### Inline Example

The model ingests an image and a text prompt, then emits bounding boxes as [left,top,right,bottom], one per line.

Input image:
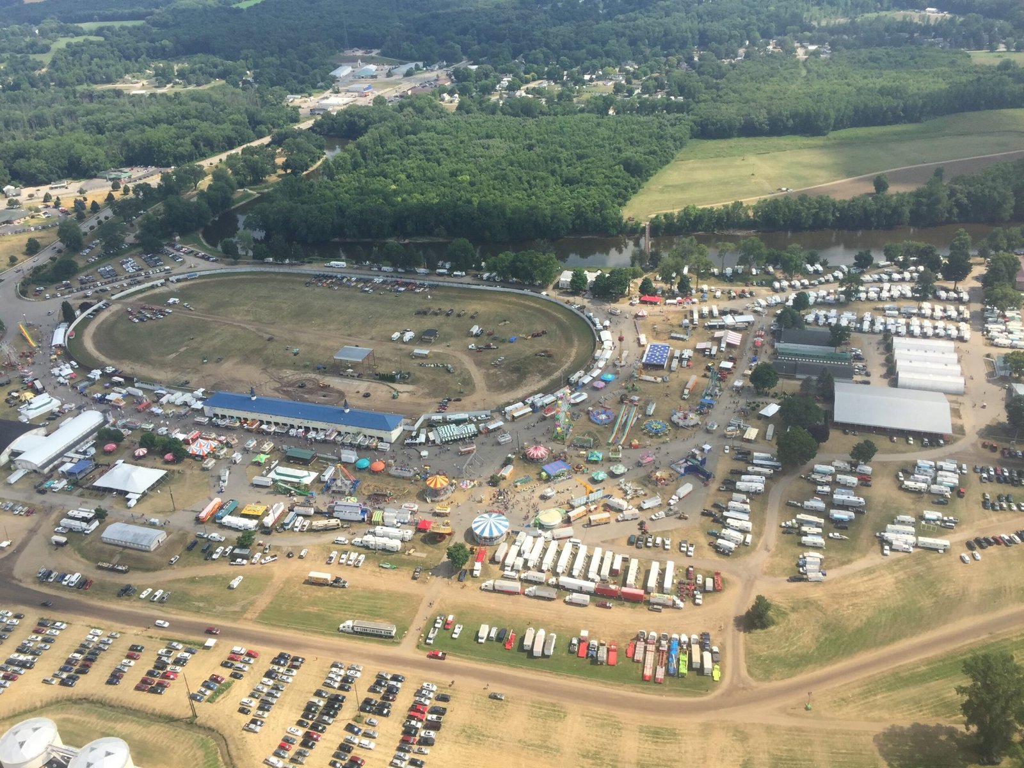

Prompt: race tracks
[80,303,577,416]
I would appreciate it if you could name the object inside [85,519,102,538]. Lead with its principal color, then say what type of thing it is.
white vehicle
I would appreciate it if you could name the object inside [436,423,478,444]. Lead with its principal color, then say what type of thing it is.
white tent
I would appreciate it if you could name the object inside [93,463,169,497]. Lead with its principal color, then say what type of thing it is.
white tent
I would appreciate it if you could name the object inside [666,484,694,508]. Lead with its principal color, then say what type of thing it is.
white truck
